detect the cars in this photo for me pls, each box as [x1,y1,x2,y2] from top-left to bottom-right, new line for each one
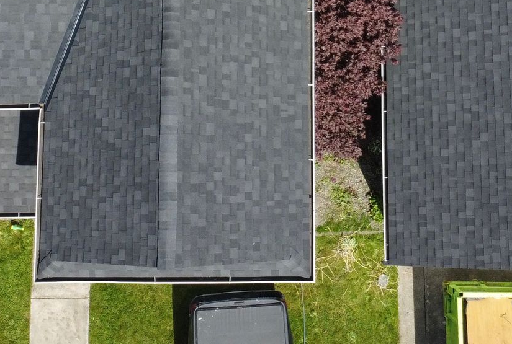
[191,284,293,344]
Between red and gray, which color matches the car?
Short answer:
gray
